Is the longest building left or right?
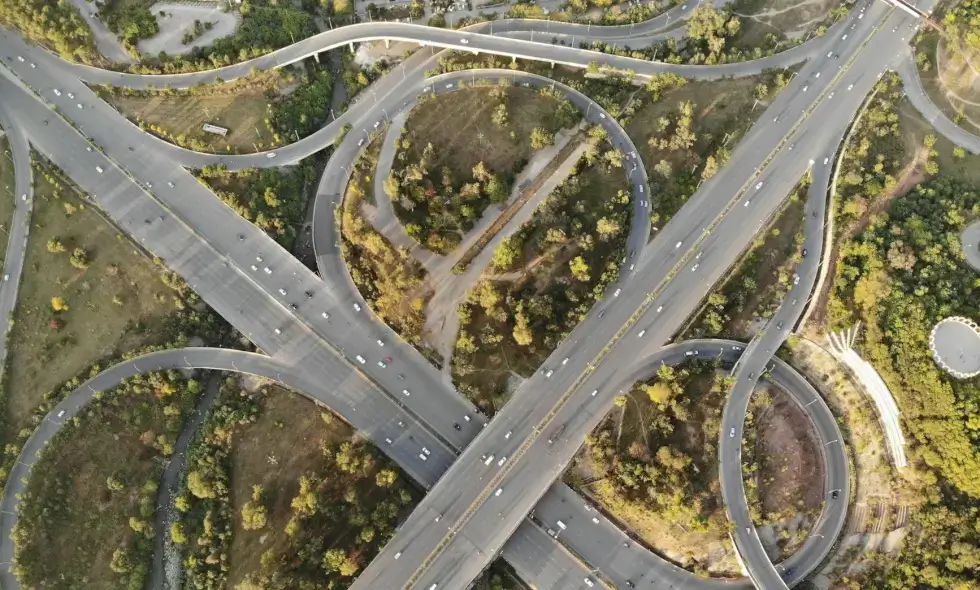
right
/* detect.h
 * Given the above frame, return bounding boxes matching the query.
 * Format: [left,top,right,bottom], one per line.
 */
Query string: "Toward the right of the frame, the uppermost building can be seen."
[827,320,906,468]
